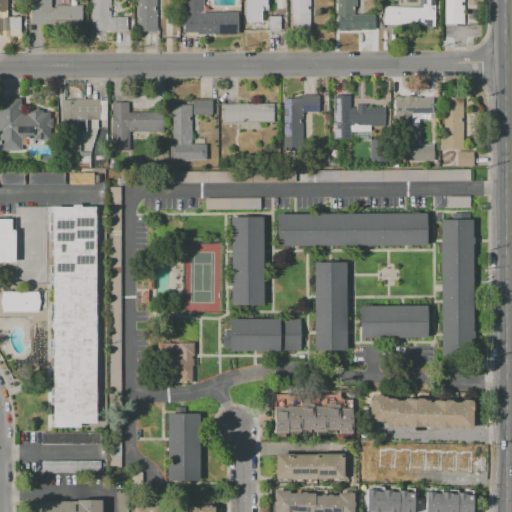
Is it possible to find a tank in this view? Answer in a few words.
No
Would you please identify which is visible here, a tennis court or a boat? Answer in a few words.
tennis court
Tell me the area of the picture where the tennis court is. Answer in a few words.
center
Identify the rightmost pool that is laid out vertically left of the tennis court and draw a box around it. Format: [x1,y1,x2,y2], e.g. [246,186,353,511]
[157,262,169,293]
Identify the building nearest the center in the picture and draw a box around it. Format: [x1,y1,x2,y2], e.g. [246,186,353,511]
[232,216,265,306]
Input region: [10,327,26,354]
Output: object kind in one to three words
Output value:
swimming pool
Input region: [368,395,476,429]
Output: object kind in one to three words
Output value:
building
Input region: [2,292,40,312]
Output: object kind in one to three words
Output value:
house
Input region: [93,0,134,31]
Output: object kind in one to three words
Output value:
house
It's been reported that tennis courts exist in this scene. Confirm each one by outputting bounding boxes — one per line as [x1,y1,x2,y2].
[186,243,222,312]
